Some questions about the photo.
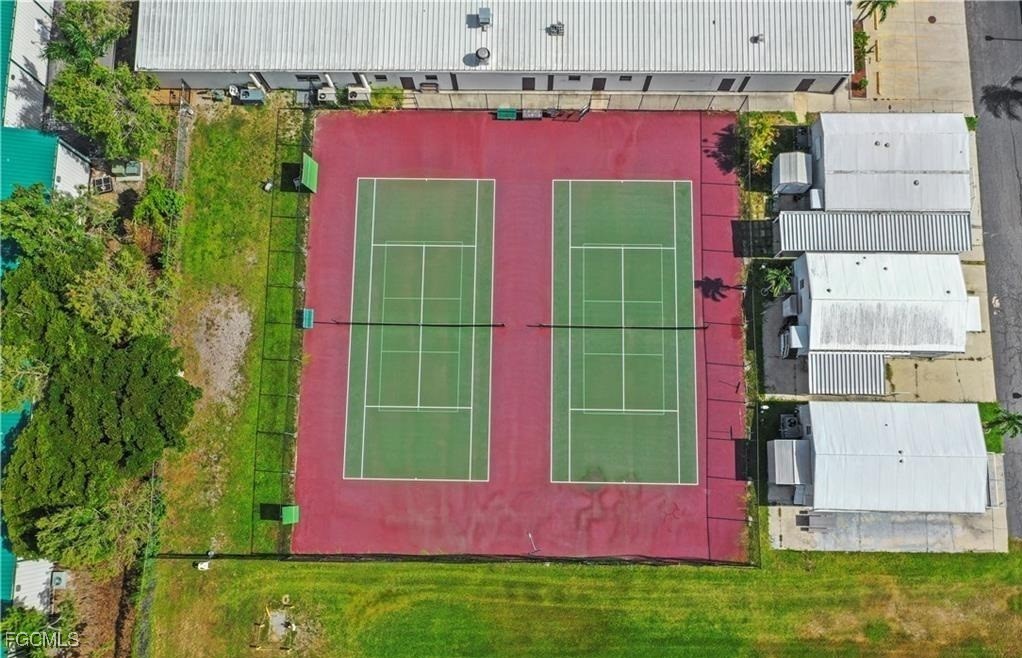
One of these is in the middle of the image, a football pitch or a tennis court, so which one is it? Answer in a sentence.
The one visible in the middle of the image is a tennis court.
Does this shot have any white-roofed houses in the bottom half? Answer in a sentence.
Yes, a white-roofed house shows up in the bottom half.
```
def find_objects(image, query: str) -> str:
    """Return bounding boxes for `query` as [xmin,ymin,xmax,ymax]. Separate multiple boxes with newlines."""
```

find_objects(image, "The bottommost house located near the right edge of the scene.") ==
[797,402,997,513]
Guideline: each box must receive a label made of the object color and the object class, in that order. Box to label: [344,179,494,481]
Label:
green tennis court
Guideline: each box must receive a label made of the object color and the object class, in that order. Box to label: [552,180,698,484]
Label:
green tennis court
